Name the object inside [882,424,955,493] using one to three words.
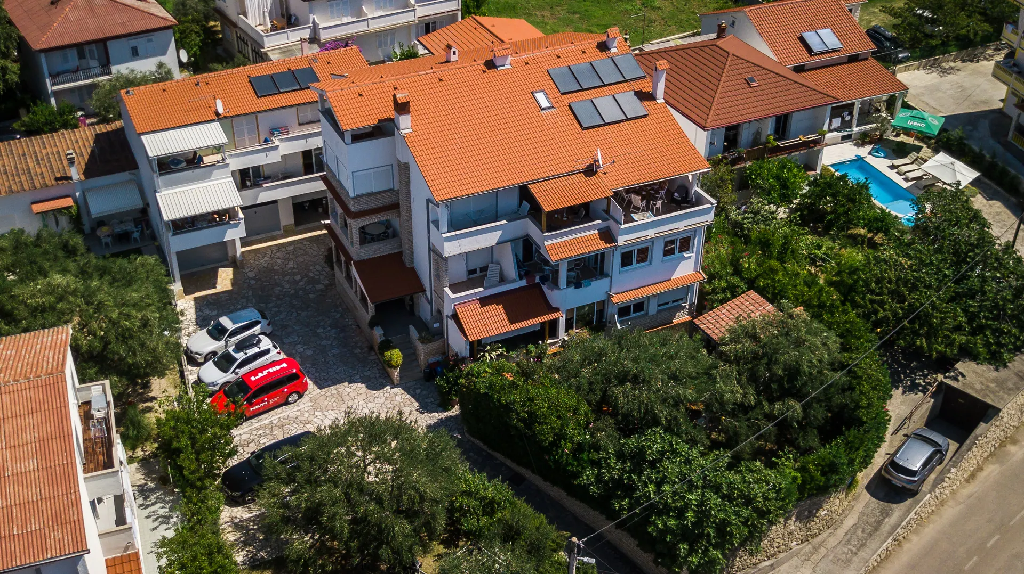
car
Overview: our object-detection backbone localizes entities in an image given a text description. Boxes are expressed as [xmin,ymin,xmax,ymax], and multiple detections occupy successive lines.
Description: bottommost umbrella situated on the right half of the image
[916,154,987,199]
